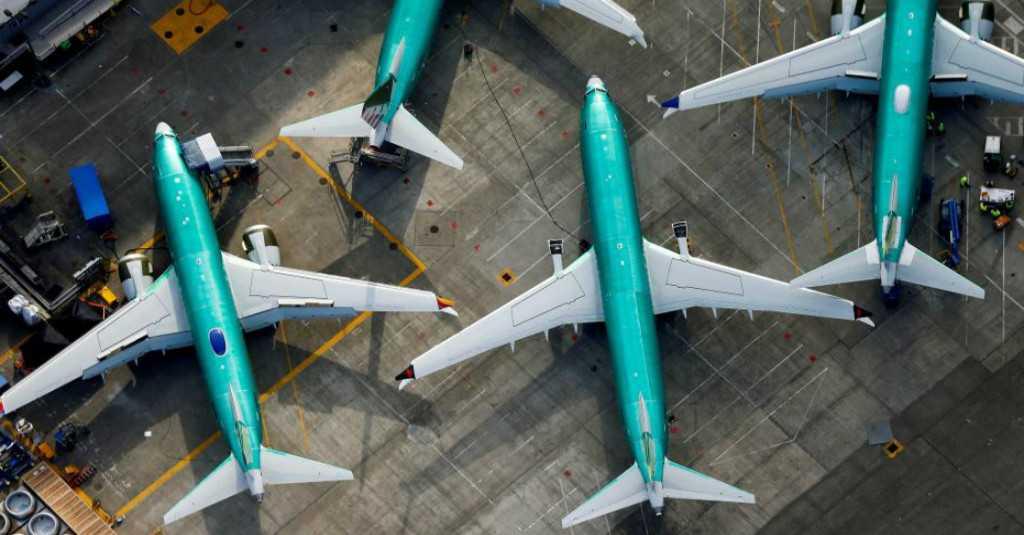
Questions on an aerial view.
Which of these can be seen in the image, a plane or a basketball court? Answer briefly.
plane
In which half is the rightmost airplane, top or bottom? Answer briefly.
top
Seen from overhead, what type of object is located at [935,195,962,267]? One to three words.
work vehicle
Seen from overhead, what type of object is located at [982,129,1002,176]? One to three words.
vehicle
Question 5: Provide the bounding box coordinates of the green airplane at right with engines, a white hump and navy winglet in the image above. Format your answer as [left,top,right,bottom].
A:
[664,0,1024,301]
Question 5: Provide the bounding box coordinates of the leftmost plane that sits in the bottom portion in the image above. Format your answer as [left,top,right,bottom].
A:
[0,121,459,528]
